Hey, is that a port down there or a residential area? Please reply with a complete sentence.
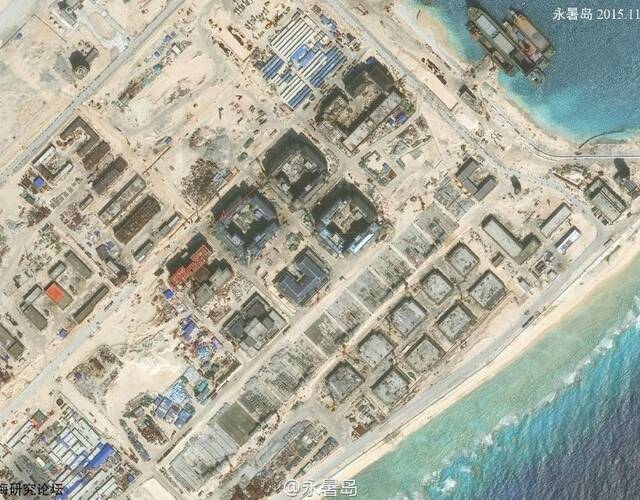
This image shows a port.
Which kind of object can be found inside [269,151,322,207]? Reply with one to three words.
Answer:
building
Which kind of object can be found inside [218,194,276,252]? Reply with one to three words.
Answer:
building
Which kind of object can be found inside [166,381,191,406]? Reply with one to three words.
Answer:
shed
